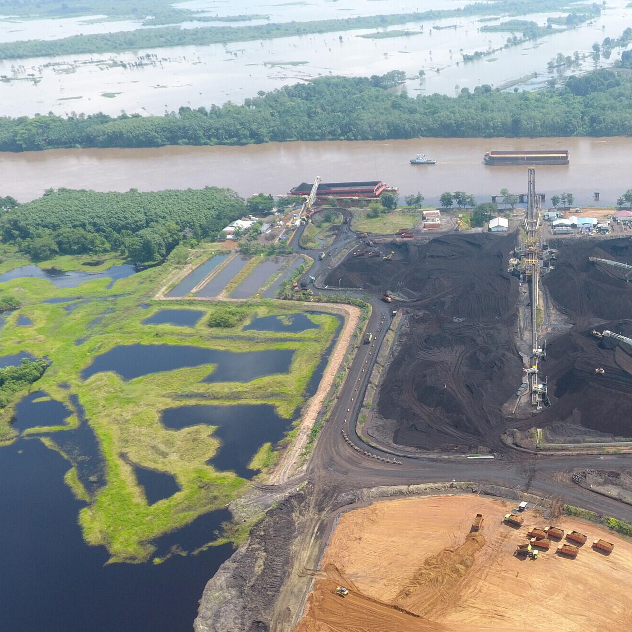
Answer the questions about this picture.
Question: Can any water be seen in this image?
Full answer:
Yes, there's water in this view.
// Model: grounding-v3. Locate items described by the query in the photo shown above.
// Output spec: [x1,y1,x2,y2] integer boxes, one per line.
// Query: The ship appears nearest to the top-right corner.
[483,151,569,164]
